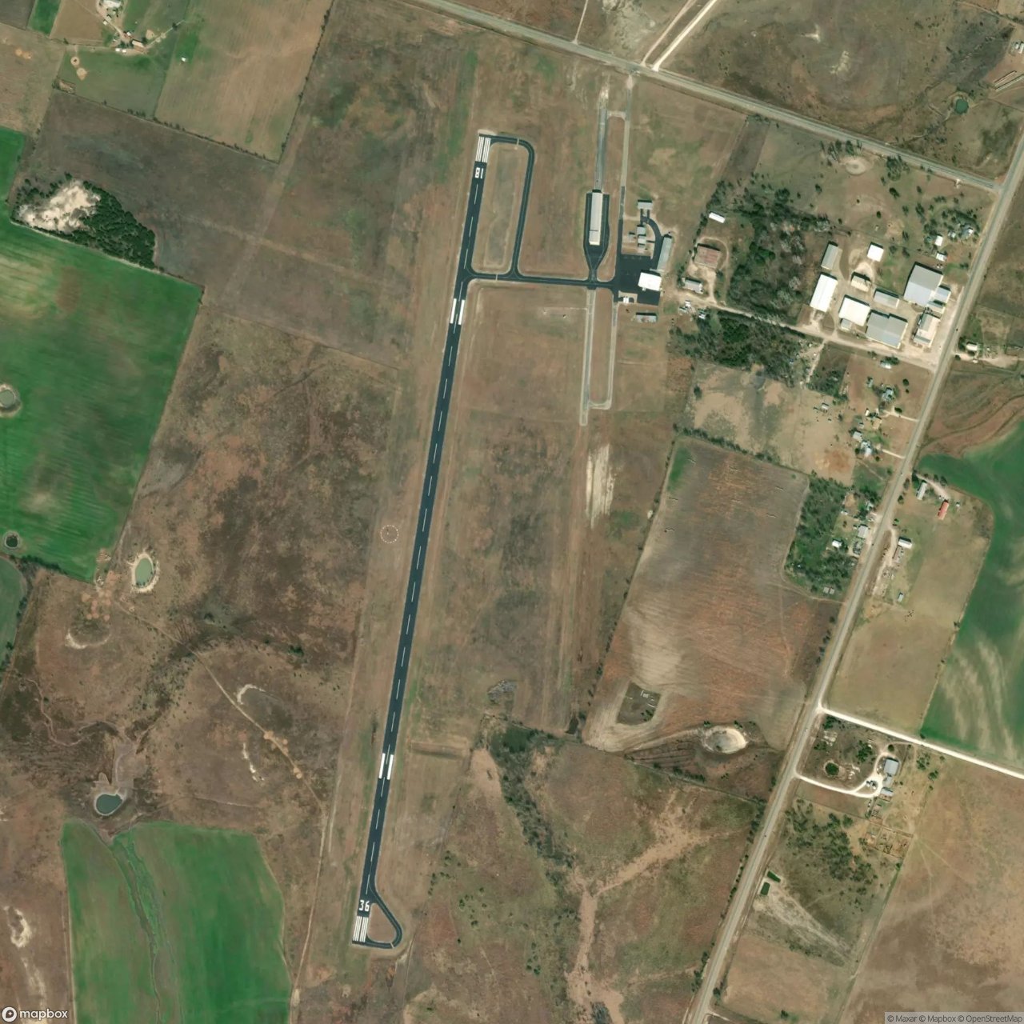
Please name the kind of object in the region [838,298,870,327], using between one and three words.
building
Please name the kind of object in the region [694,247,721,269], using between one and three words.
barn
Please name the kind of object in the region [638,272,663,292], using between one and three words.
hangar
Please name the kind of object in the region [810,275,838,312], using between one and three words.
building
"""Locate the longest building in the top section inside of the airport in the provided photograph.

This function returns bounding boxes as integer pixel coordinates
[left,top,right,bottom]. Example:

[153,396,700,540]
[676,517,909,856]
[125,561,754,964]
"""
[589,193,603,246]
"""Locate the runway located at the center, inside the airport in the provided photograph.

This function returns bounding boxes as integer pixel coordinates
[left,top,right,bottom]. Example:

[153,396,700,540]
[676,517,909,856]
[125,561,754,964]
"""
[353,133,491,945]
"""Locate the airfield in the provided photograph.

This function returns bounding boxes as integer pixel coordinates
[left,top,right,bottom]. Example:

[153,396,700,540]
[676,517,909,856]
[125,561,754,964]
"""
[353,108,663,949]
